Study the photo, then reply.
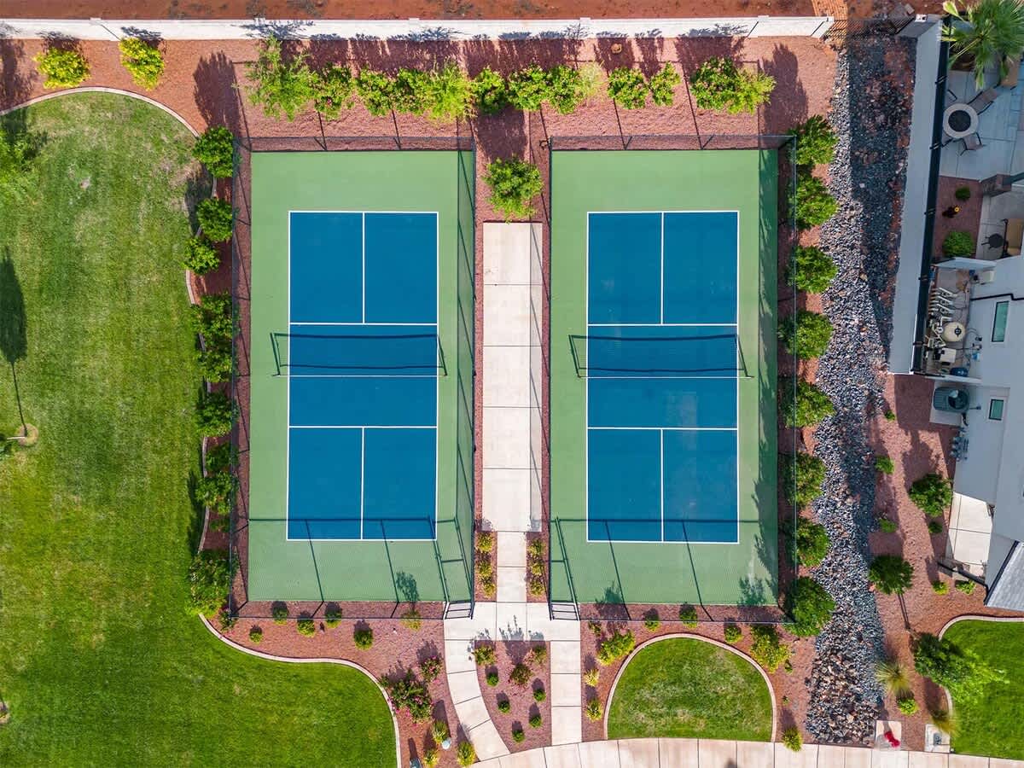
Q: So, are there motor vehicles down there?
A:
No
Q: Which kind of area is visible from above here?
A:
sports ground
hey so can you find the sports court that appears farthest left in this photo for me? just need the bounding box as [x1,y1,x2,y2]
[248,151,474,603]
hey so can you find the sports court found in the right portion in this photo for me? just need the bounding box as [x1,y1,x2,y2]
[550,150,778,606]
